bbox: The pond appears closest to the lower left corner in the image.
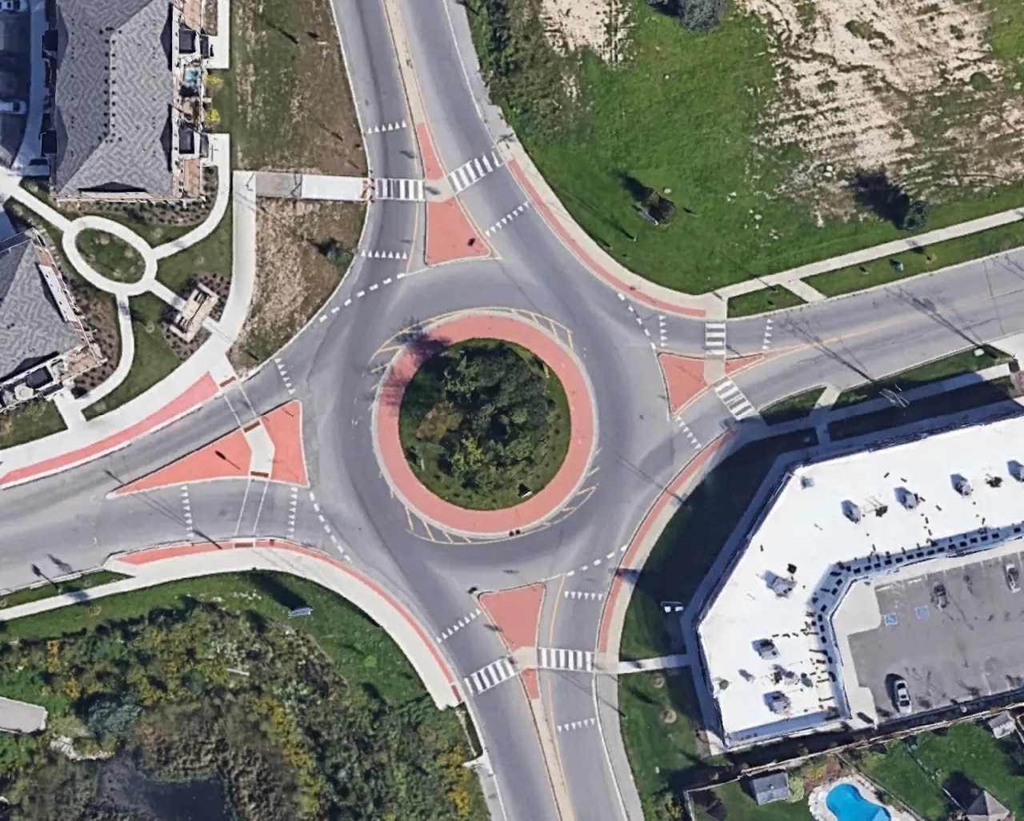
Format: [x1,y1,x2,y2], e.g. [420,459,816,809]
[130,775,234,821]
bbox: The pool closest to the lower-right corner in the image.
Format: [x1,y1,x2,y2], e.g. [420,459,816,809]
[810,774,907,821]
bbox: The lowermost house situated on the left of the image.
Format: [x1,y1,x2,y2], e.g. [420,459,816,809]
[0,235,111,415]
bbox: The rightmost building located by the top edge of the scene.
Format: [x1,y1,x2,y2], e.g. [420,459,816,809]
[44,0,223,207]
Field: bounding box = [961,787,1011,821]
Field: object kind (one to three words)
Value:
gazebo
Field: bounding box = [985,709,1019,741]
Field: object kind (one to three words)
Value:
shed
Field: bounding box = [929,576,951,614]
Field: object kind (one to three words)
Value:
car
